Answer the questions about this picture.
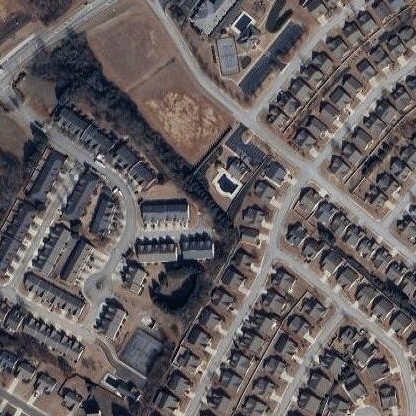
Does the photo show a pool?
Yes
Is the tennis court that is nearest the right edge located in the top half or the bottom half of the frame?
top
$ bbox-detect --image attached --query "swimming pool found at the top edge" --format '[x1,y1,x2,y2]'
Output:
[230,11,257,40]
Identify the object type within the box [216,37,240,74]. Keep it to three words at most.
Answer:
tennis court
